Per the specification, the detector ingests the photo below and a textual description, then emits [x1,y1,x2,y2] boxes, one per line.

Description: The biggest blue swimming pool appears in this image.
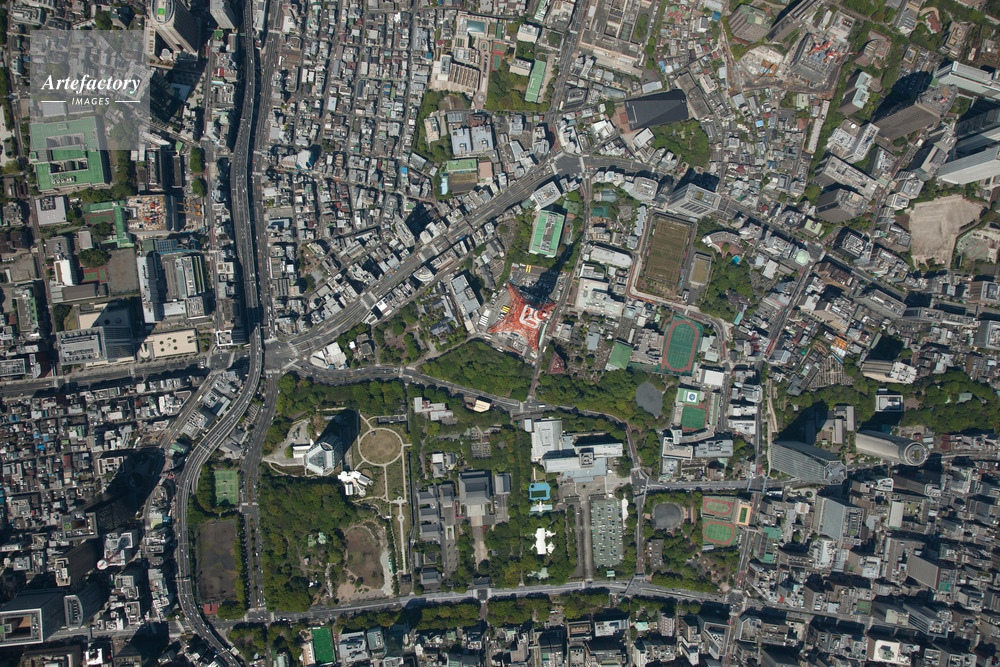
[529,483,550,500]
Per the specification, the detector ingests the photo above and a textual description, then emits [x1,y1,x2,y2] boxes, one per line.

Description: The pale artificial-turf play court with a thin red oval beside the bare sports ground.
[957,229,1000,262]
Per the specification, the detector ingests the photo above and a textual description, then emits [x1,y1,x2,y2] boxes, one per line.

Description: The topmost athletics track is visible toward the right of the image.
[661,314,703,375]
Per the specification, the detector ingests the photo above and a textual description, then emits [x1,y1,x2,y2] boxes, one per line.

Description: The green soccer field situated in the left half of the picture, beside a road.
[312,627,334,665]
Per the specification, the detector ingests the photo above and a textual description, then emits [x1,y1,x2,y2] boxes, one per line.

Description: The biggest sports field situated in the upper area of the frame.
[641,213,694,289]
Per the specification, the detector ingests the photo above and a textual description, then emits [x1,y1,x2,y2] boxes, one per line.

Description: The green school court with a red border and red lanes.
[682,399,709,431]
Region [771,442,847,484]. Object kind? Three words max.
building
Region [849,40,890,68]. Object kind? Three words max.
building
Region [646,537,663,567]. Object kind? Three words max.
house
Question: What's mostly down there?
buildings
